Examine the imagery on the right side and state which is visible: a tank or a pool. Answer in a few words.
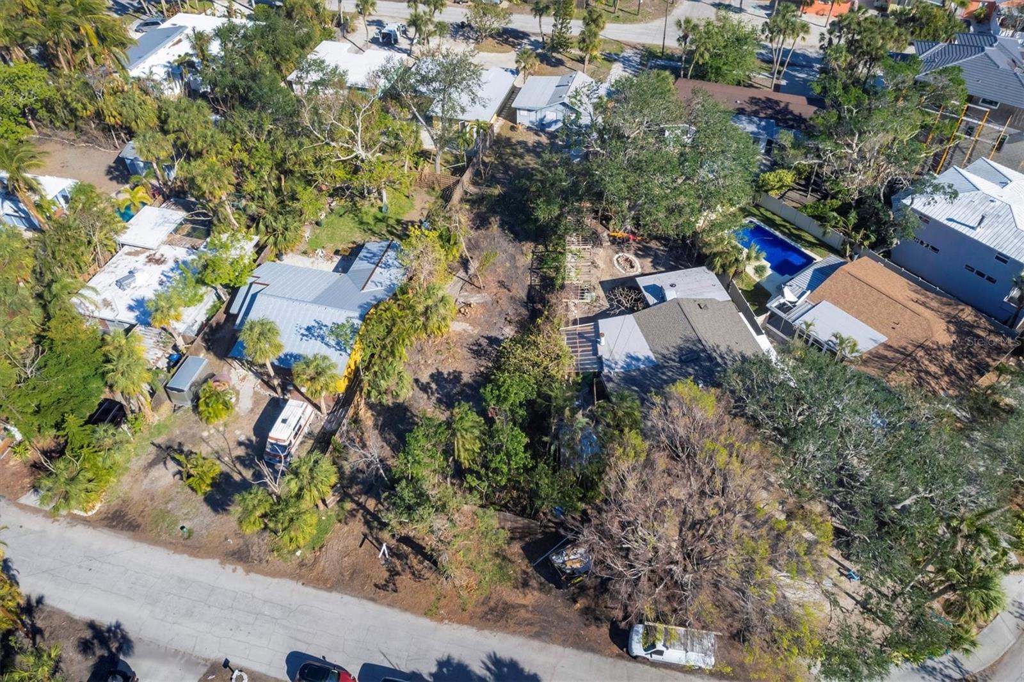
pool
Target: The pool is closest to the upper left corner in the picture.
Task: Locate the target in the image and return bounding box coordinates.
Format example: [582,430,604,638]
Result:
[115,191,143,221]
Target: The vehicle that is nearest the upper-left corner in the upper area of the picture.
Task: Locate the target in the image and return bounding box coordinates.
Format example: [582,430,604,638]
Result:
[136,20,162,33]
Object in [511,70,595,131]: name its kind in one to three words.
house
